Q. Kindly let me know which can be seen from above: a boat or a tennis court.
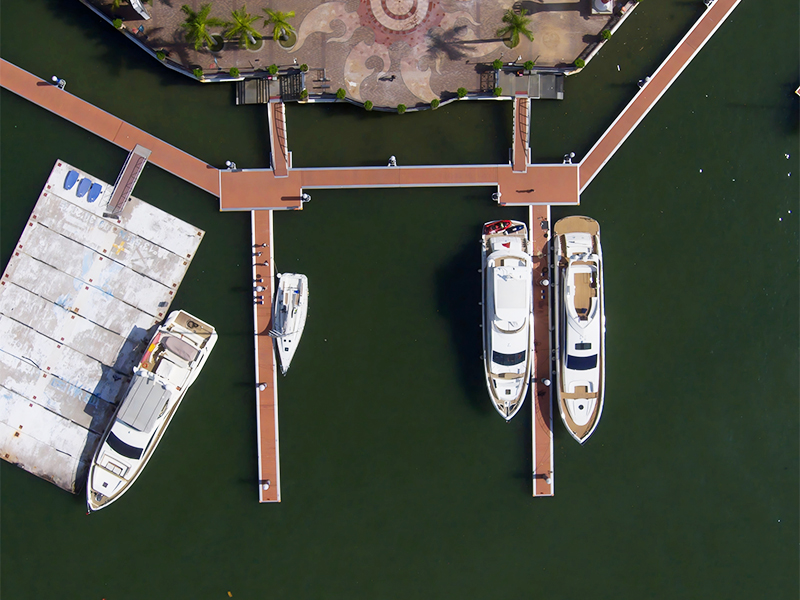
boat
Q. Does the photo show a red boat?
Yes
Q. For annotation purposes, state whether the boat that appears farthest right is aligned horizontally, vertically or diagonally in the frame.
vertically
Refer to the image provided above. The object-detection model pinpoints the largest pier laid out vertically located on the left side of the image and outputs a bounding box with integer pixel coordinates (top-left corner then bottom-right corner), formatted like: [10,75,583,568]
[252,211,281,503]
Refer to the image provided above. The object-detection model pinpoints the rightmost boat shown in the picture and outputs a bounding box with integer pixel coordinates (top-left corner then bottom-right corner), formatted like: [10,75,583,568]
[553,216,606,444]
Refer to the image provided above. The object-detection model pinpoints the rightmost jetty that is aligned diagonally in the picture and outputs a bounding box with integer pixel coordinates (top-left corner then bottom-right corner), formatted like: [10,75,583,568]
[579,0,741,195]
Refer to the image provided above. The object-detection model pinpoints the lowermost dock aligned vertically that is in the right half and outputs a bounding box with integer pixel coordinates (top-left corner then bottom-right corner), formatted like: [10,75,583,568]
[529,205,555,497]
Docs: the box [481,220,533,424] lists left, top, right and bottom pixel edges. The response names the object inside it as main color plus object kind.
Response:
white boat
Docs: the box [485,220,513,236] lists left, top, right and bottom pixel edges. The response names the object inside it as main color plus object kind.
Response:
red boat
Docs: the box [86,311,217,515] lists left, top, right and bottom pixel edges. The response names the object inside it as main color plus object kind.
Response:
white boat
